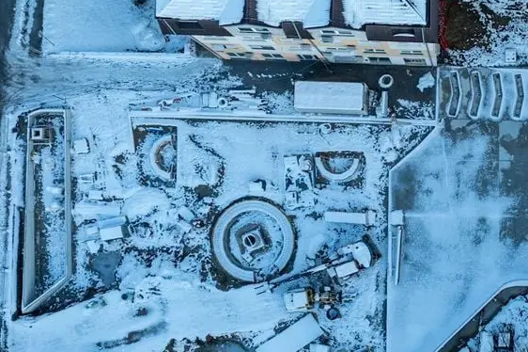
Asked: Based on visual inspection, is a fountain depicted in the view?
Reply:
Yes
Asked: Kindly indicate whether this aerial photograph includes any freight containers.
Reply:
Yes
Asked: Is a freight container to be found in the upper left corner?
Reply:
No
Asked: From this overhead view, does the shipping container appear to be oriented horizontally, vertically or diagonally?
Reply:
horizontally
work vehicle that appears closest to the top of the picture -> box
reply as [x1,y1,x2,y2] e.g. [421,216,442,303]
[266,244,378,294]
